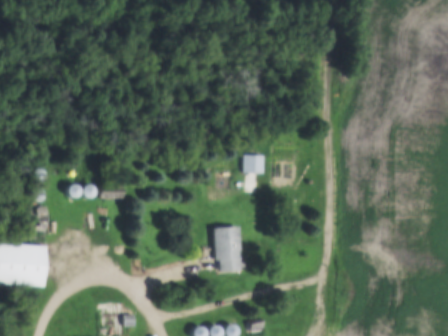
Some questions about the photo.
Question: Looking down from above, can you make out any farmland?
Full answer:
Yes, there's farmland in this view.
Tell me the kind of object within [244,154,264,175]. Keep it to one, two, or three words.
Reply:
building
